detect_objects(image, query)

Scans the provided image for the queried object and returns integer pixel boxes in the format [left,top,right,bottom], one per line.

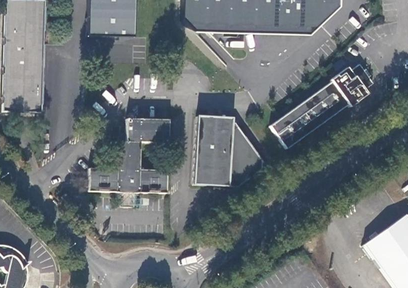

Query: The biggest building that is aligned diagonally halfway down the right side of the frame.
[268,80,351,150]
